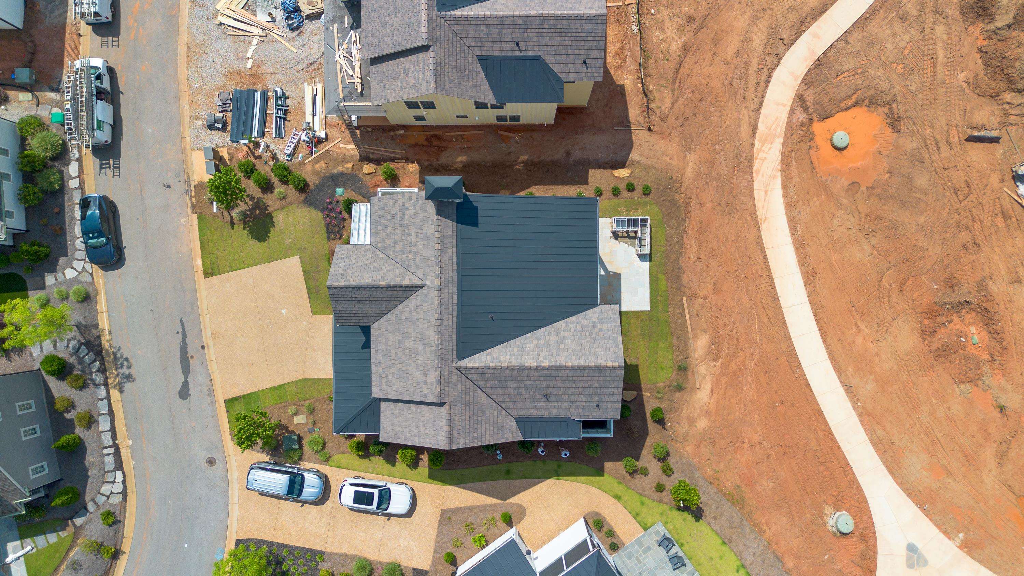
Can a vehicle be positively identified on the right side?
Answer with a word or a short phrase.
No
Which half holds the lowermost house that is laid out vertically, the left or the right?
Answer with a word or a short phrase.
left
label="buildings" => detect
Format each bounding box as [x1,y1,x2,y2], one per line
[324,0,608,128]
[0,116,28,247]
[447,516,625,576]
[326,176,624,449]
[0,0,25,30]
[0,369,61,518]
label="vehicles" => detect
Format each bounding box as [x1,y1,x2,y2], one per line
[64,0,118,31]
[246,460,330,504]
[64,59,119,148]
[338,476,415,519]
[79,193,124,267]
